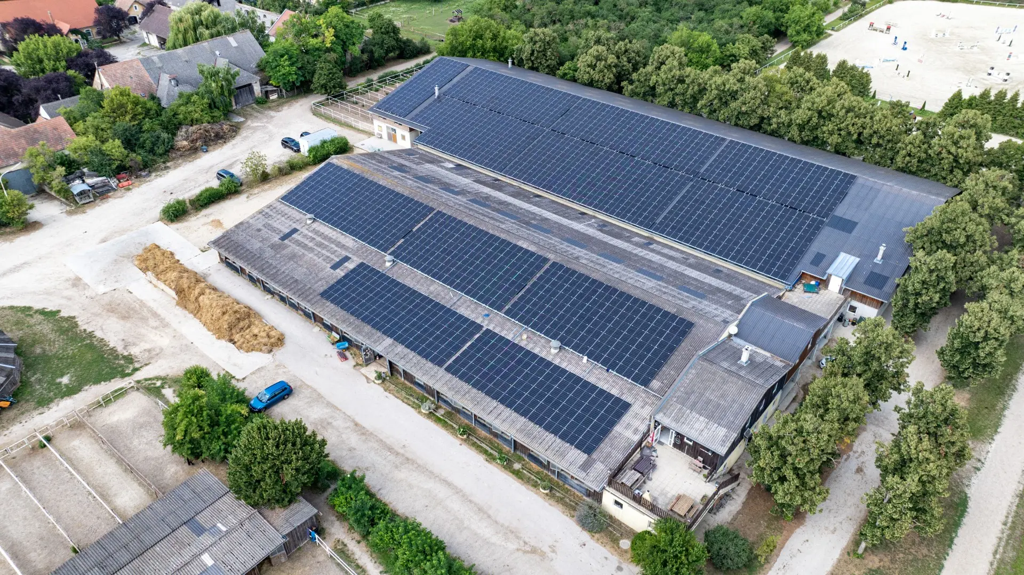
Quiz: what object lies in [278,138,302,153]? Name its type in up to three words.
car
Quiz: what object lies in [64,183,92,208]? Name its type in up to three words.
building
